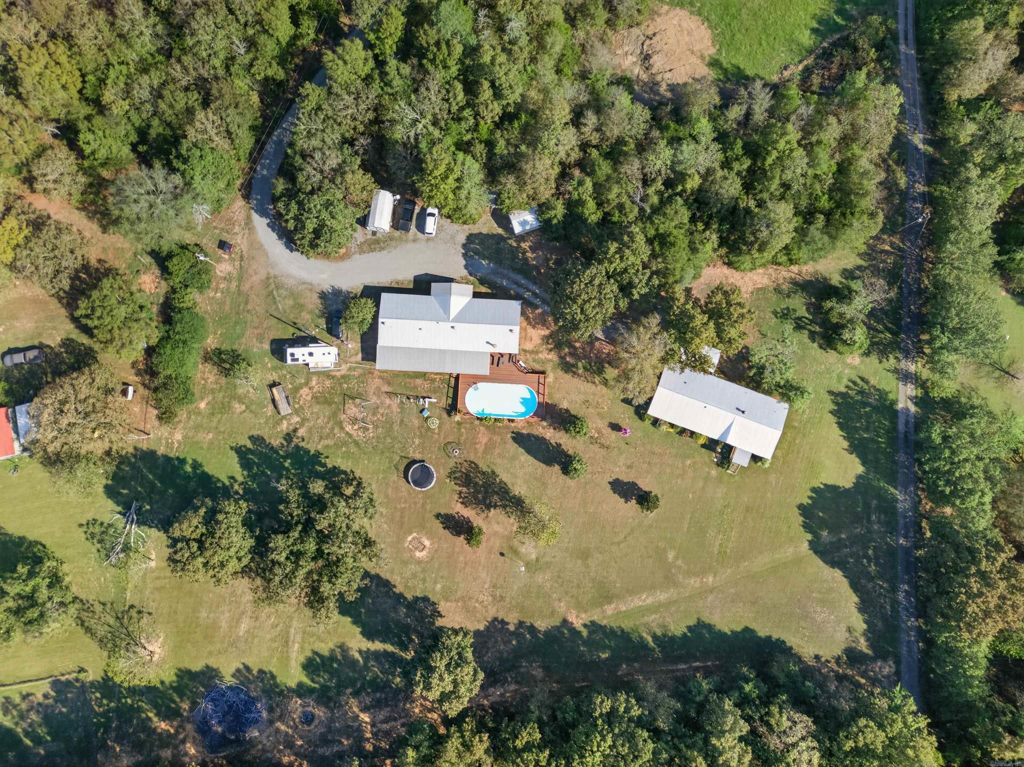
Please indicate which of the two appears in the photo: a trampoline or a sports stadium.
trampoline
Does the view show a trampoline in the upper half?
No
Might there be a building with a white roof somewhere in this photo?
Yes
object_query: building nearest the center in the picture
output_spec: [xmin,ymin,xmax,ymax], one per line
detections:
[376,283,521,375]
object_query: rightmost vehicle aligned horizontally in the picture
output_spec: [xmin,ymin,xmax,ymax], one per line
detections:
[287,345,347,369]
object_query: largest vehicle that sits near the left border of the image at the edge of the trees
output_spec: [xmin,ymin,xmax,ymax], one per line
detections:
[4,348,46,366]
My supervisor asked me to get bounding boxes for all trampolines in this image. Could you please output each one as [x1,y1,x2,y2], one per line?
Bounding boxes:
[407,461,436,491]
